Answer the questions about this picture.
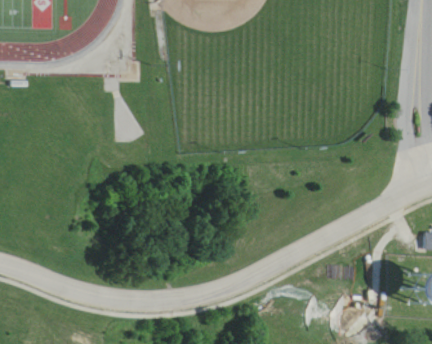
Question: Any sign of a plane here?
No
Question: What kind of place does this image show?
sports ground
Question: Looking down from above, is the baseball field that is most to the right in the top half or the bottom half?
top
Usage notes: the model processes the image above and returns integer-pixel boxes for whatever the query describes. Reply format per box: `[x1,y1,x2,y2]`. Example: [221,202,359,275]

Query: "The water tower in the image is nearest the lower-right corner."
[399,274,432,310]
